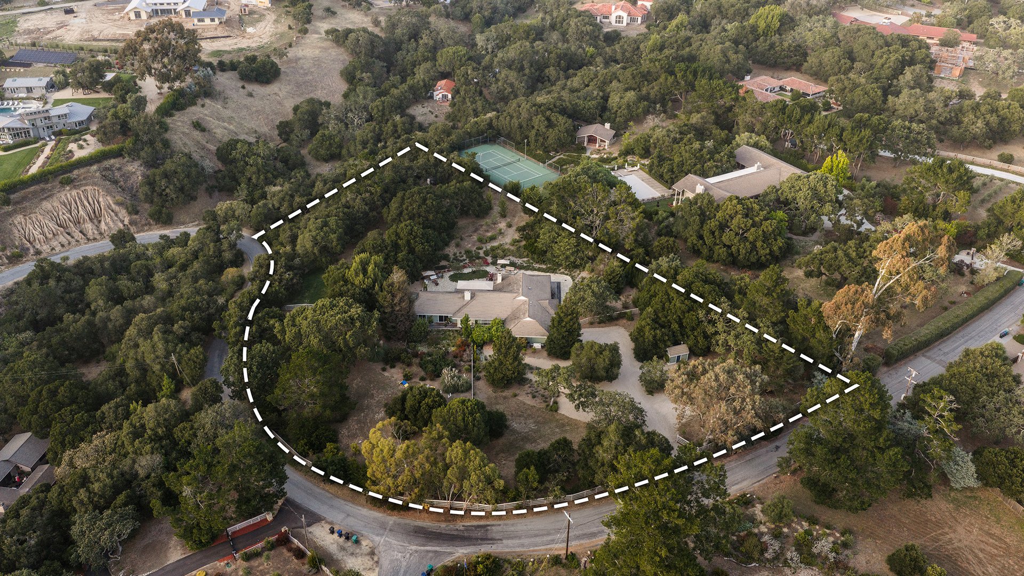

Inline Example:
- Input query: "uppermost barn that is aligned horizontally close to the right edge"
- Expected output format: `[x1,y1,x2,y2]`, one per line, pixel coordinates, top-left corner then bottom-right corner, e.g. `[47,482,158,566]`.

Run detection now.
[815,9,997,42]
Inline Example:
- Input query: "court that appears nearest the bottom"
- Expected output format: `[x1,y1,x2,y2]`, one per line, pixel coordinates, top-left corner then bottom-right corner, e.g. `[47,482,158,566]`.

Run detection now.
[443,140,556,196]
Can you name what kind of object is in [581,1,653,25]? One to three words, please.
house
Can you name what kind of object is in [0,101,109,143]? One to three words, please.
house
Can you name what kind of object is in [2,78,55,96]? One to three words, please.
building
